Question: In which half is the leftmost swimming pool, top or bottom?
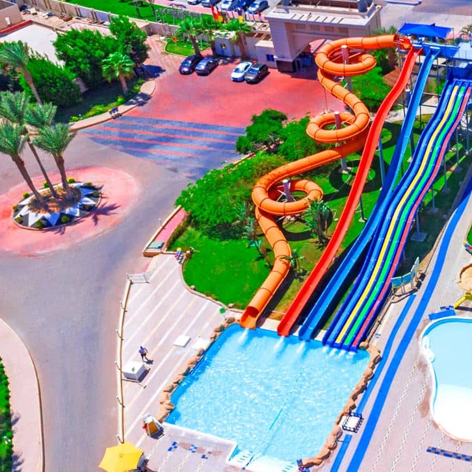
bottom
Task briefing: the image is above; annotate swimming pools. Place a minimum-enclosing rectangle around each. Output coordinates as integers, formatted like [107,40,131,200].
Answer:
[162,323,370,472]
[418,316,472,441]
